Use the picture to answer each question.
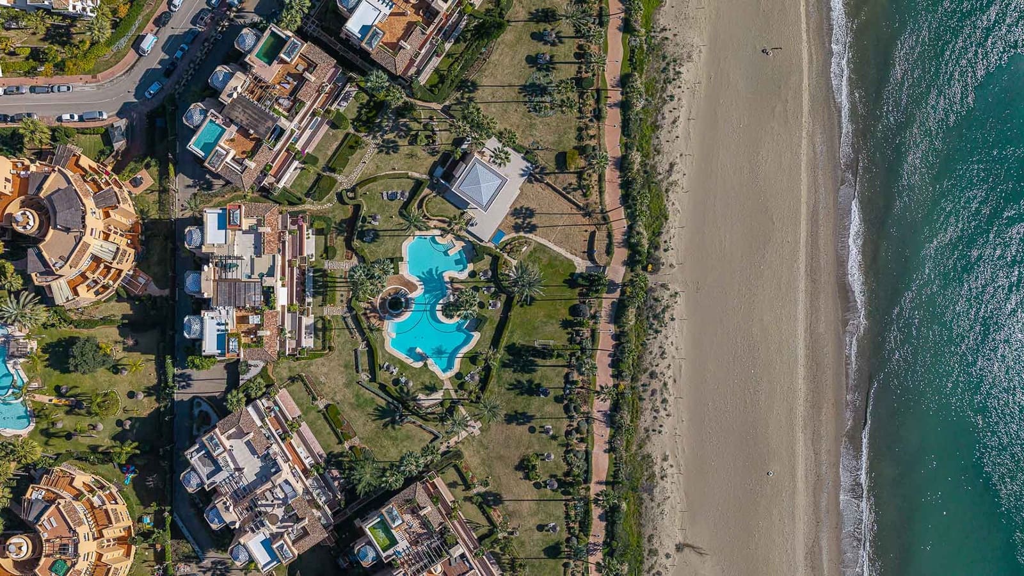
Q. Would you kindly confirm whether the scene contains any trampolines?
No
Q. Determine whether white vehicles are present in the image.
Yes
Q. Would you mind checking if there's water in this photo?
Yes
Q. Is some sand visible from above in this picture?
Yes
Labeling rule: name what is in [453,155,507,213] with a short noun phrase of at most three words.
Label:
building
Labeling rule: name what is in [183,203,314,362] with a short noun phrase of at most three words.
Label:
building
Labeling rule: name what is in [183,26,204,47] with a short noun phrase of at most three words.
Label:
car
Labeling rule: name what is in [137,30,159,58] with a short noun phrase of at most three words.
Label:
vehicle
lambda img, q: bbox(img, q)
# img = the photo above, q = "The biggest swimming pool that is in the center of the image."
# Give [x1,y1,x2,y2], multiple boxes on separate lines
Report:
[382,230,480,379]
